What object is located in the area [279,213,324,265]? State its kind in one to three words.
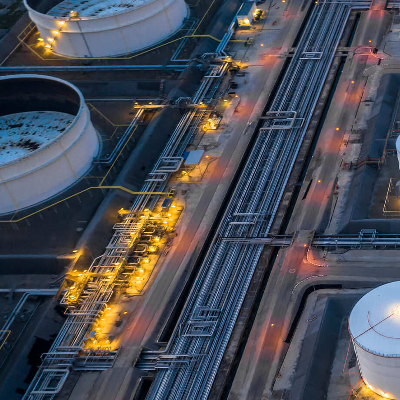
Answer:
bridge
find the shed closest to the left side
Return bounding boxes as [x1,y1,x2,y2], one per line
[235,9,257,26]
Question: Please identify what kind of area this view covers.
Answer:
industrial area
